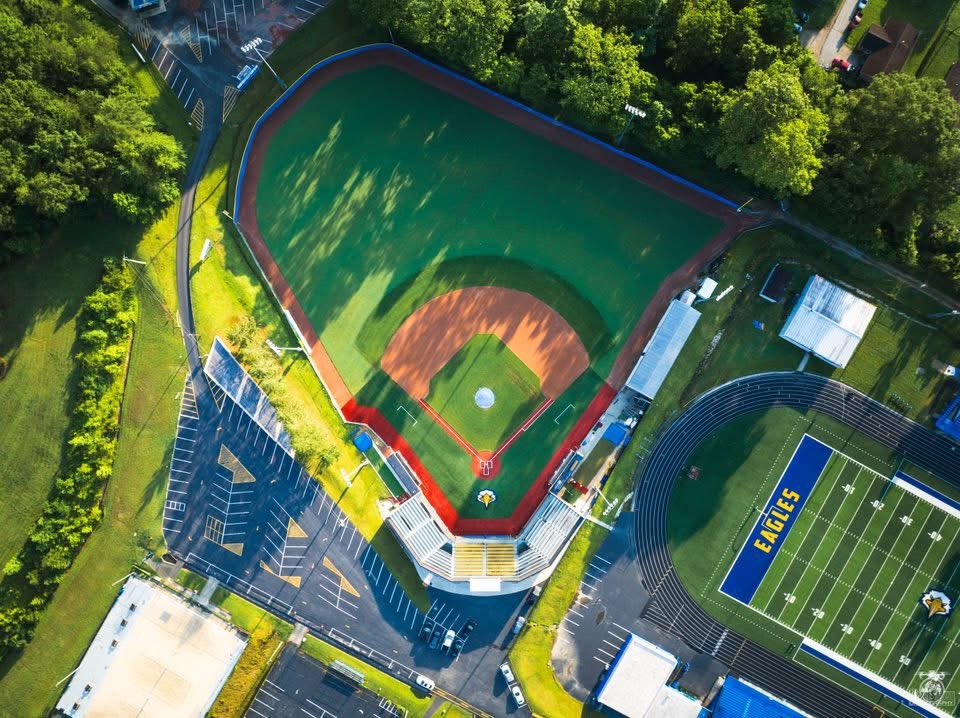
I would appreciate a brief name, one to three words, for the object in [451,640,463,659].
vehicle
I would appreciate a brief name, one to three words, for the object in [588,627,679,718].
building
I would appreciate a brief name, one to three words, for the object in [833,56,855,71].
vehicle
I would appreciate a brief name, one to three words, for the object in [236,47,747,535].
baseball field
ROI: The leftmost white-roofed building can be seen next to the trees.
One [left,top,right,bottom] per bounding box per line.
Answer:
[51,570,255,718]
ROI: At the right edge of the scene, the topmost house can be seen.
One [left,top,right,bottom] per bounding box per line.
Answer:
[852,18,921,77]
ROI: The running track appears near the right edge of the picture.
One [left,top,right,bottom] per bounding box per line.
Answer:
[629,369,960,718]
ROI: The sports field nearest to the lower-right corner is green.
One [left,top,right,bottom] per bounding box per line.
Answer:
[666,406,960,718]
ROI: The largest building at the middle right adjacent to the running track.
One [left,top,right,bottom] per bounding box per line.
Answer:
[774,276,877,367]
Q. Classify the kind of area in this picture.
sports ground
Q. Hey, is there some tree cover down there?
Yes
